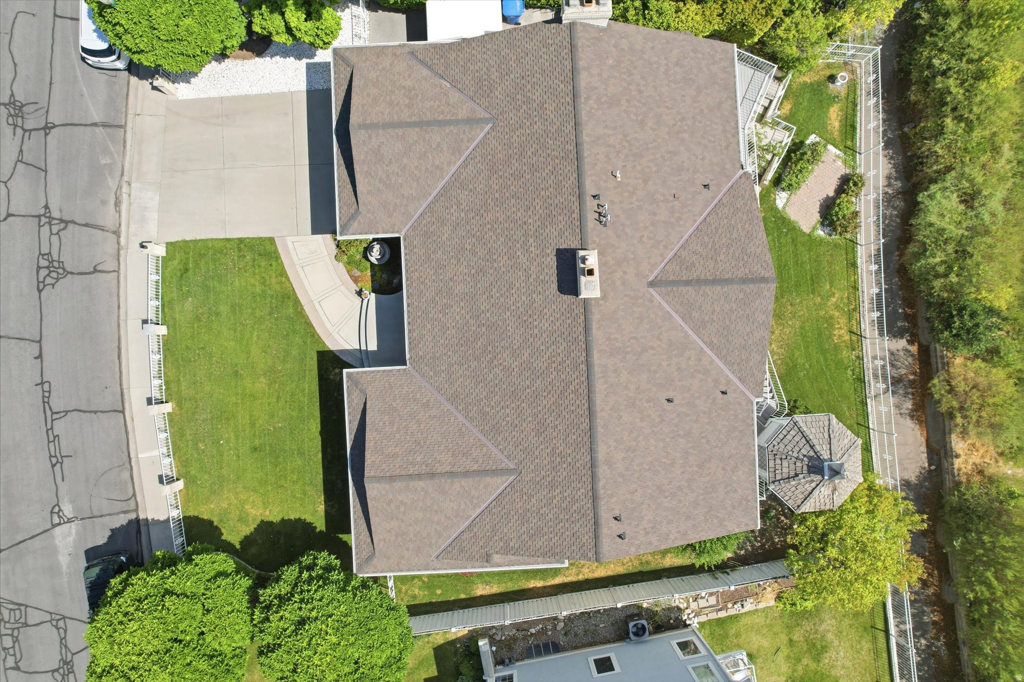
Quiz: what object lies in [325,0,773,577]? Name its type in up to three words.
house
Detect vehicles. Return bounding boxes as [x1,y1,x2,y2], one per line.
[83,545,137,649]
[80,0,139,70]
